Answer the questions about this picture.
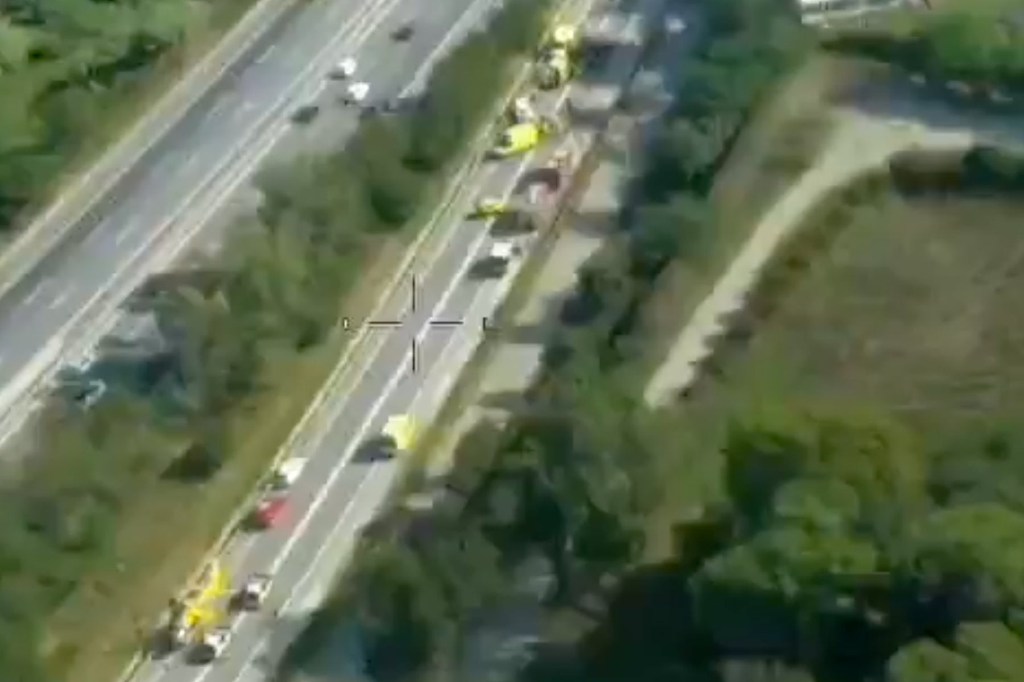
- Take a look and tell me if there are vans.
Yes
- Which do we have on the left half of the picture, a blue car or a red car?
red car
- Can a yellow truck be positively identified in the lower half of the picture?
Yes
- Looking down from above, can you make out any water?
No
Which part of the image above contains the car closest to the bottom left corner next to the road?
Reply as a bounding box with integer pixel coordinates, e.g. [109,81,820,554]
[149,622,176,659]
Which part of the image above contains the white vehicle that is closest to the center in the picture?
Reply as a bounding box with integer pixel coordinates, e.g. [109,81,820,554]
[489,237,518,267]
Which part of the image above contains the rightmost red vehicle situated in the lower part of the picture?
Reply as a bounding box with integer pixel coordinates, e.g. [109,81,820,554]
[254,498,289,534]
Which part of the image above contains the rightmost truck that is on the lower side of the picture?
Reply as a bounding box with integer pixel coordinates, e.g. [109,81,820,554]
[386,410,426,456]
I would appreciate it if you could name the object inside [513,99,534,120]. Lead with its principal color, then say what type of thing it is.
white vehicle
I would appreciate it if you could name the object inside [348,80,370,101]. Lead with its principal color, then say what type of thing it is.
white car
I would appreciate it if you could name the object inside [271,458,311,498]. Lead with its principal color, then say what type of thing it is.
white van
